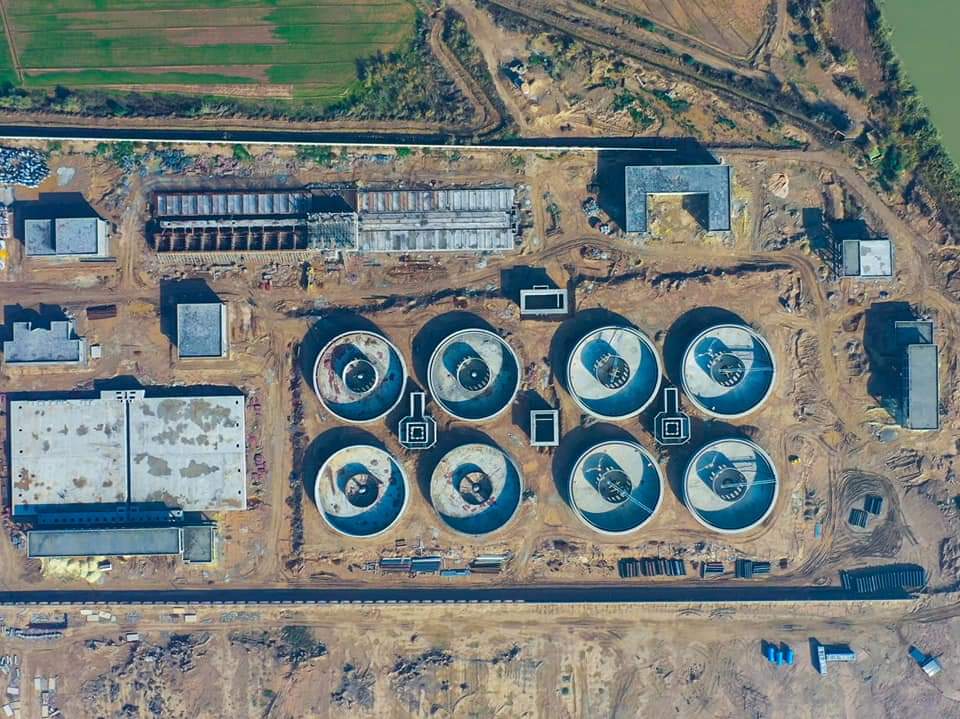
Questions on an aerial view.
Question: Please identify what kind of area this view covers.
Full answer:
This looks like an industrial area.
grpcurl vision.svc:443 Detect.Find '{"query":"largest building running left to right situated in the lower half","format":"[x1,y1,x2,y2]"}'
[28,522,219,562]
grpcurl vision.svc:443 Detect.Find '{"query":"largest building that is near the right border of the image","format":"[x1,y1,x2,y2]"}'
[888,321,938,429]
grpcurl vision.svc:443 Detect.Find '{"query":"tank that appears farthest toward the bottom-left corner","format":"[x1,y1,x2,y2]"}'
[315,443,409,537]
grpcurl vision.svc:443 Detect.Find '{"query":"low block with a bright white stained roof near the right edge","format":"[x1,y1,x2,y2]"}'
[849,239,892,281]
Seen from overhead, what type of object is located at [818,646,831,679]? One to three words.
building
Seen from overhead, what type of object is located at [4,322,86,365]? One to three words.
building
